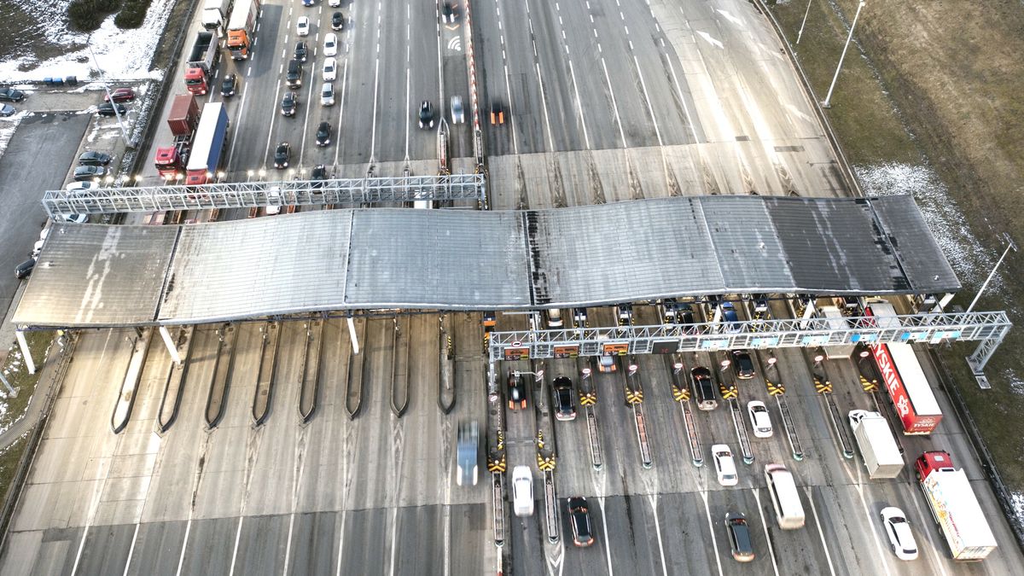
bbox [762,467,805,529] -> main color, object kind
white van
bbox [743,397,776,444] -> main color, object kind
white car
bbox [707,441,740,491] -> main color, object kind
white car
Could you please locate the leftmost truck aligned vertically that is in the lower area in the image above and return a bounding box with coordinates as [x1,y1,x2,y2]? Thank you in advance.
[452,423,482,484]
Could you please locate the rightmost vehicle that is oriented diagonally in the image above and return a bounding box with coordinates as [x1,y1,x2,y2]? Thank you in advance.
[902,451,1001,571]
